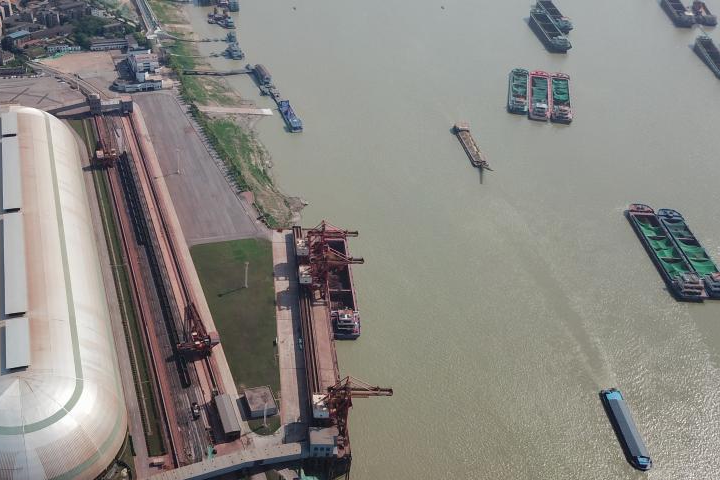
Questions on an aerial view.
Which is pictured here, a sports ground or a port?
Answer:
port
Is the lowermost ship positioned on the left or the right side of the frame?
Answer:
right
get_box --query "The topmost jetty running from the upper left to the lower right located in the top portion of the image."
[250,62,277,86]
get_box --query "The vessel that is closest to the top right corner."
[690,0,716,27]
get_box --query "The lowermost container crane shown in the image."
[313,373,393,430]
